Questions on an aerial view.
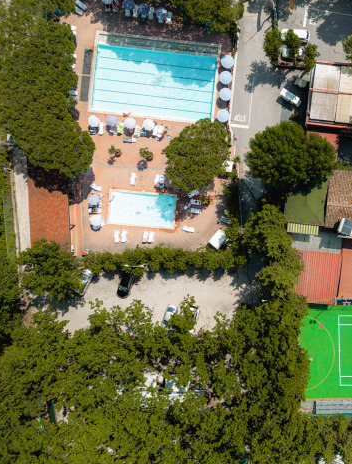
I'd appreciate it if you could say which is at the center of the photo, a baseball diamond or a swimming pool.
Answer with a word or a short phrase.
swimming pool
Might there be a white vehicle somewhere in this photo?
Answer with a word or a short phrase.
Yes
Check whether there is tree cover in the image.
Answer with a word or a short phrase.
Yes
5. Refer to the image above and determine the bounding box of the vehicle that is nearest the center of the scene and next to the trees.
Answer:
[117,266,136,295]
